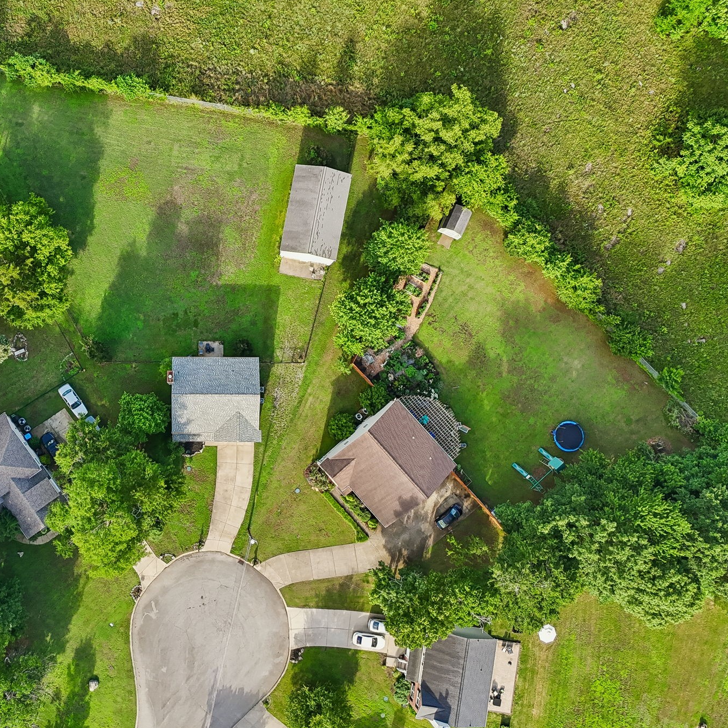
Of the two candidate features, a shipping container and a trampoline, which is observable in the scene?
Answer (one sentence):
I can see a trampoline in this picture.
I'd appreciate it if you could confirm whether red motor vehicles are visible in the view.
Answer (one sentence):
No, I can't see a single red motor vehicle in this photo.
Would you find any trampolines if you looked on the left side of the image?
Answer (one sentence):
No, there's no trampoline to be seen on the left side of the image.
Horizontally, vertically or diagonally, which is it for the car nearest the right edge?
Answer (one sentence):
The car nearest the right edge has been laid out diagonally relative to the frame.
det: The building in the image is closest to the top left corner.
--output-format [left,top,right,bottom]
[280,164,352,262]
